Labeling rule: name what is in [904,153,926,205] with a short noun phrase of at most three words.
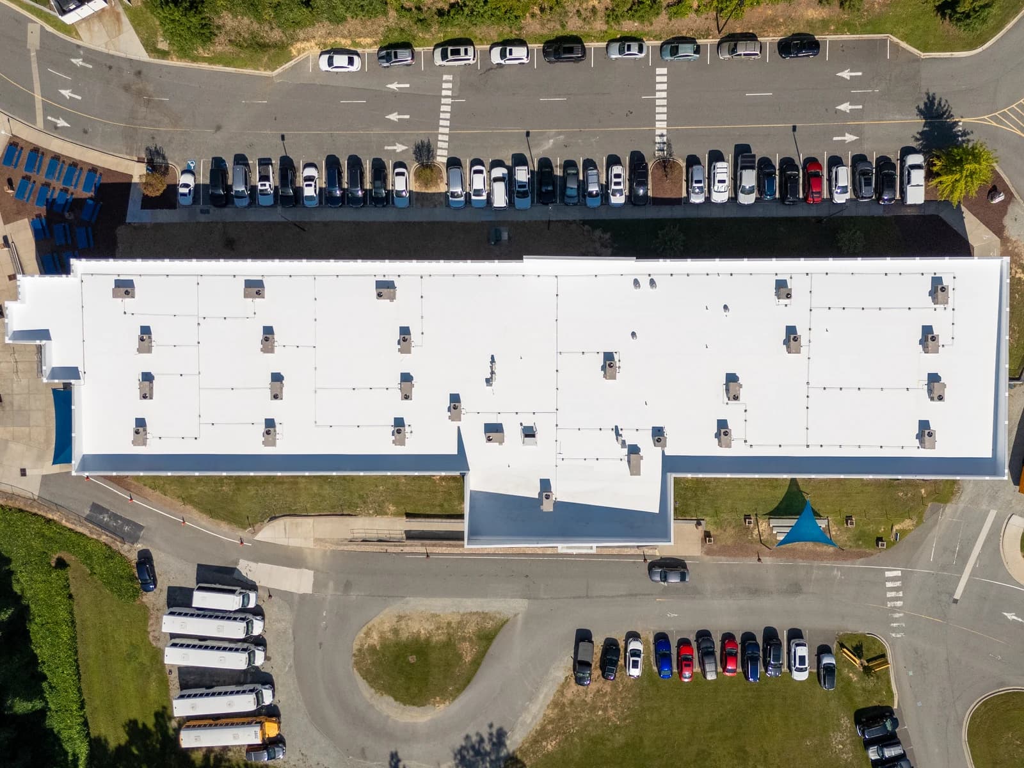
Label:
truck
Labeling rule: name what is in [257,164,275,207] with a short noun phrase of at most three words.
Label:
vehicle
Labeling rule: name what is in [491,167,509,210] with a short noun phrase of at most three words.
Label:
car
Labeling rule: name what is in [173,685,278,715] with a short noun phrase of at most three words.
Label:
bus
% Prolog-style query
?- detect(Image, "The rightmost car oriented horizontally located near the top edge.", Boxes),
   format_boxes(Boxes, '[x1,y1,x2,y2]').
[777,38,820,59]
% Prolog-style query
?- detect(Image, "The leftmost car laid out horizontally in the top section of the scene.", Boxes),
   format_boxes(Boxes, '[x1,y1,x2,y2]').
[320,52,361,72]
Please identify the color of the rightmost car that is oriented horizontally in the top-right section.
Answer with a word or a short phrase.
black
